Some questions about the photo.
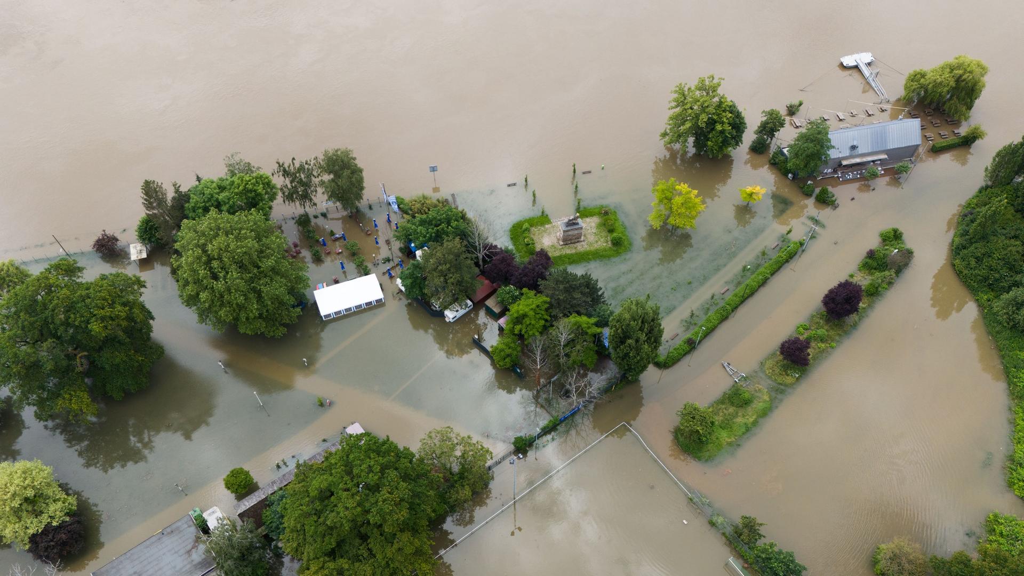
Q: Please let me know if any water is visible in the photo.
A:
Yes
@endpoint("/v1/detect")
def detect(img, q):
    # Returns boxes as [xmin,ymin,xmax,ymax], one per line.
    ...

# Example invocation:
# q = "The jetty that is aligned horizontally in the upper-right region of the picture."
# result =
[840,50,874,67]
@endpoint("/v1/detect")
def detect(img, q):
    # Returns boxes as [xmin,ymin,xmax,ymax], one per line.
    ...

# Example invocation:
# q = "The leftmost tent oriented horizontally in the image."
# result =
[314,273,386,320]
